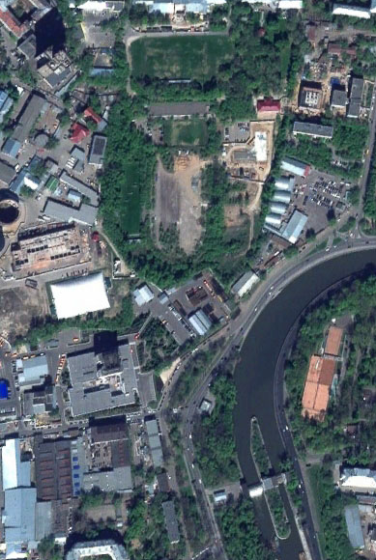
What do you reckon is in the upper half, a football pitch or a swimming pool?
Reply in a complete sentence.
What appears in the upper half is a football pitch.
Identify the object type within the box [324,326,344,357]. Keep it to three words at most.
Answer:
tennis court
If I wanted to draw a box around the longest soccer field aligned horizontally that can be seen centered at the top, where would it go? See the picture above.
[128,30,236,82]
